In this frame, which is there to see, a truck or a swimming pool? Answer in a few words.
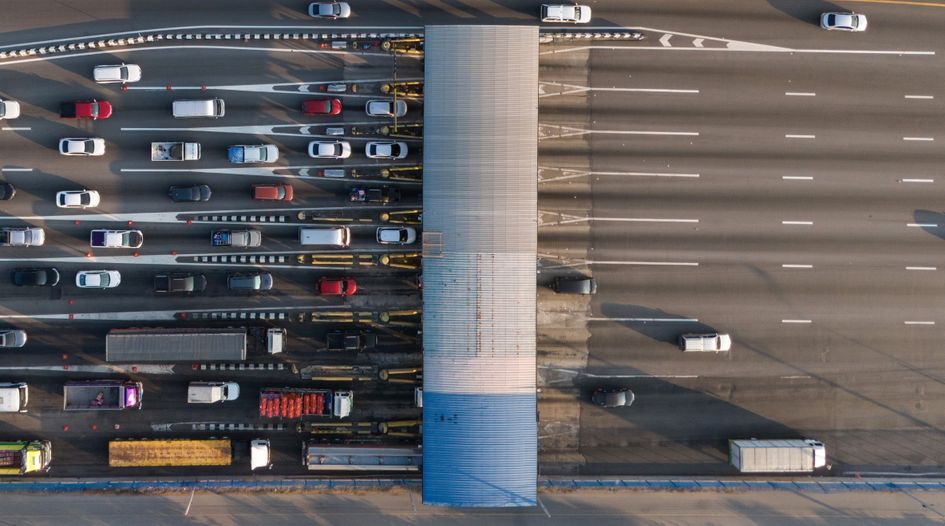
truck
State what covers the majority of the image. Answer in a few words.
paved ground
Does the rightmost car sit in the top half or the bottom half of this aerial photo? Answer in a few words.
top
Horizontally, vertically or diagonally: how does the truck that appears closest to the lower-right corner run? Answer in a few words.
horizontally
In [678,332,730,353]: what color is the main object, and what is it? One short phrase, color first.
white car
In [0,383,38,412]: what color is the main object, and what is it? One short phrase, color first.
white truck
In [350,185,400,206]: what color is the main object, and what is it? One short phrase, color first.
black truck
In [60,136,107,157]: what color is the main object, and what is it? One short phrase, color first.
white car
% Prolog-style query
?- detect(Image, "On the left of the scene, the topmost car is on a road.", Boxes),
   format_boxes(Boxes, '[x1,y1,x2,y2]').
[309,0,351,21]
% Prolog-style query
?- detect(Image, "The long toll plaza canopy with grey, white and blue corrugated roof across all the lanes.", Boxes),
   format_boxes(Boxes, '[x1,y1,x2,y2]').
[422,24,539,507]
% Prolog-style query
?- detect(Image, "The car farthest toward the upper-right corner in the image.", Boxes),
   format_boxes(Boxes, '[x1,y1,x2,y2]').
[819,10,866,33]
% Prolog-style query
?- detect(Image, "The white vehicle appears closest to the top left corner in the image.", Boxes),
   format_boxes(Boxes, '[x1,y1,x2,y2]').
[0,98,22,119]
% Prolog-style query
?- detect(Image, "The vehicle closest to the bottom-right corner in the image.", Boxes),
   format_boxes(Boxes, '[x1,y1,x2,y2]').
[727,438,830,472]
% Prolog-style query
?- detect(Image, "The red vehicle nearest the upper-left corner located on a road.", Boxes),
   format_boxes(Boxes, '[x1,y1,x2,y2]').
[61,98,114,120]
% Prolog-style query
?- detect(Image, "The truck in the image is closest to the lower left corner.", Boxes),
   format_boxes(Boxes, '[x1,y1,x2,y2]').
[0,439,59,472]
